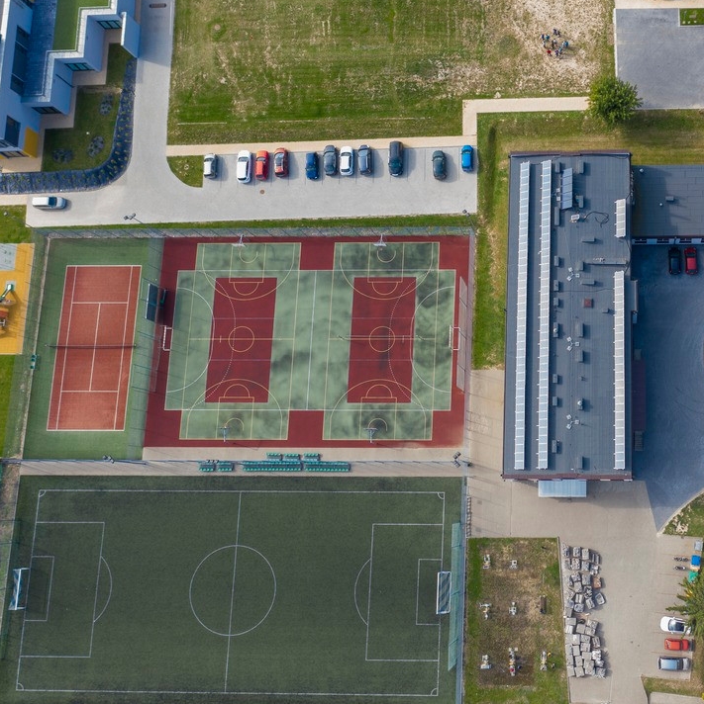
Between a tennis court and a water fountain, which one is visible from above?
tennis court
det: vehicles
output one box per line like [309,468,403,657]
[273,150,289,176]
[658,616,692,633]
[668,247,681,275]
[459,147,473,172]
[304,153,319,179]
[28,194,67,210]
[254,153,270,179]
[321,146,338,176]
[235,152,252,182]
[662,638,689,653]
[357,146,372,175]
[683,247,697,275]
[656,655,690,673]
[389,140,404,176]
[203,153,219,180]
[431,152,447,180]
[339,147,354,176]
